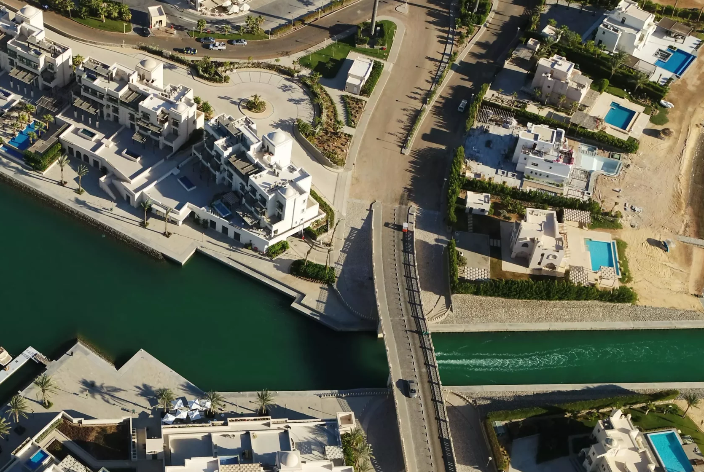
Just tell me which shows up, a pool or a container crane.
pool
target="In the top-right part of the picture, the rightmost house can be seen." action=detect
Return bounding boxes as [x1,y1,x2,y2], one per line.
[593,0,656,55]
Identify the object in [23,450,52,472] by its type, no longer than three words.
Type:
swimming pool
